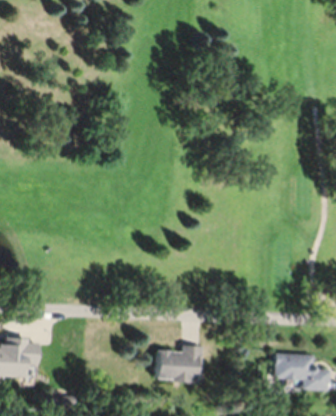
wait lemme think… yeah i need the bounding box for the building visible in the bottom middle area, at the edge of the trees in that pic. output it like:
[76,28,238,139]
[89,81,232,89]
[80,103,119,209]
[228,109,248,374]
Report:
[156,346,203,384]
